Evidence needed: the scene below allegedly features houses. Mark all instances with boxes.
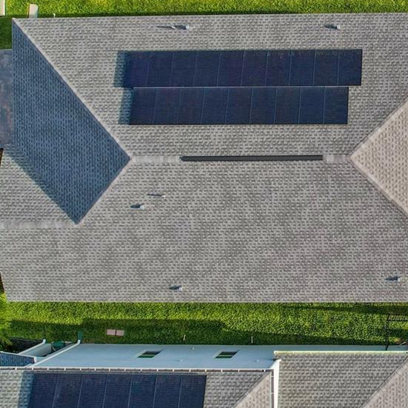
[0,14,408,301]
[0,336,408,408]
